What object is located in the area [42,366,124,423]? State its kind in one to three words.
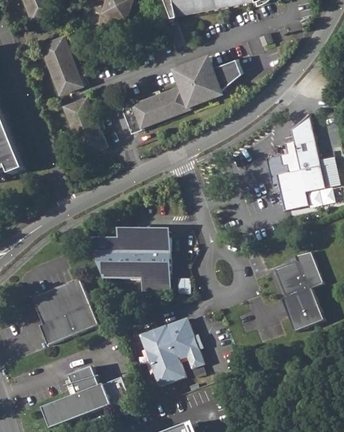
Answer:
building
